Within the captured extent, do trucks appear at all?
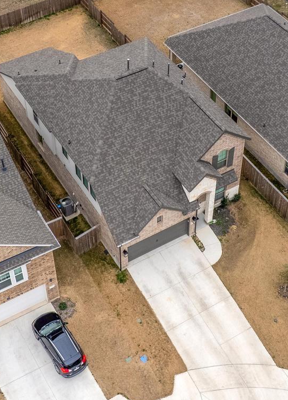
No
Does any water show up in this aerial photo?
No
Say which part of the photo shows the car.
bottom left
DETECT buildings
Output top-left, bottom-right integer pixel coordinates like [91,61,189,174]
[0,132,64,324]
[0,37,253,271]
